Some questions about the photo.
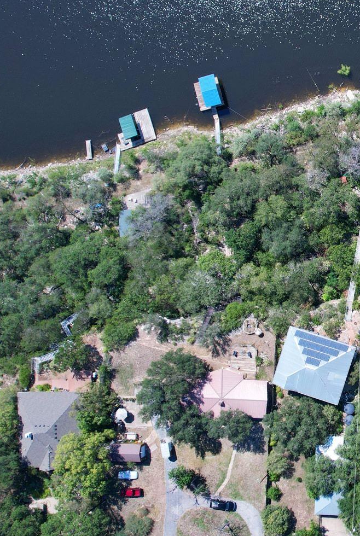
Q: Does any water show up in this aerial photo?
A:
Yes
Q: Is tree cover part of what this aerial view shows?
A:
Yes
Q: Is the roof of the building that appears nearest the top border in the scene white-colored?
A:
No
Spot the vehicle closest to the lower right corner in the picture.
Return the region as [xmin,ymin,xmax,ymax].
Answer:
[208,500,236,513]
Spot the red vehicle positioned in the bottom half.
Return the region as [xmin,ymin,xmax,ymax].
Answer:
[119,488,143,500]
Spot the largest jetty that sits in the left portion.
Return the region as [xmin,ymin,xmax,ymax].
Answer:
[116,108,156,151]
